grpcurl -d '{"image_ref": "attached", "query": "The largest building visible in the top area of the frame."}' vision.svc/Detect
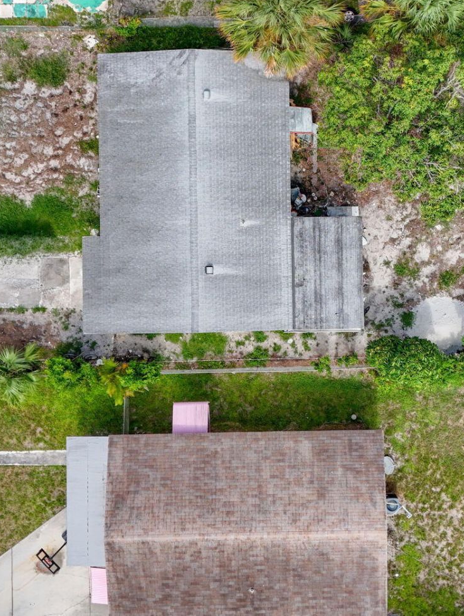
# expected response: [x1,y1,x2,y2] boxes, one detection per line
[83,49,365,335]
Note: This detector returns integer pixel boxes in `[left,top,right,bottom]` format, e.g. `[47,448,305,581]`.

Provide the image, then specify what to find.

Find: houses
[65,402,389,616]
[83,49,365,335]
